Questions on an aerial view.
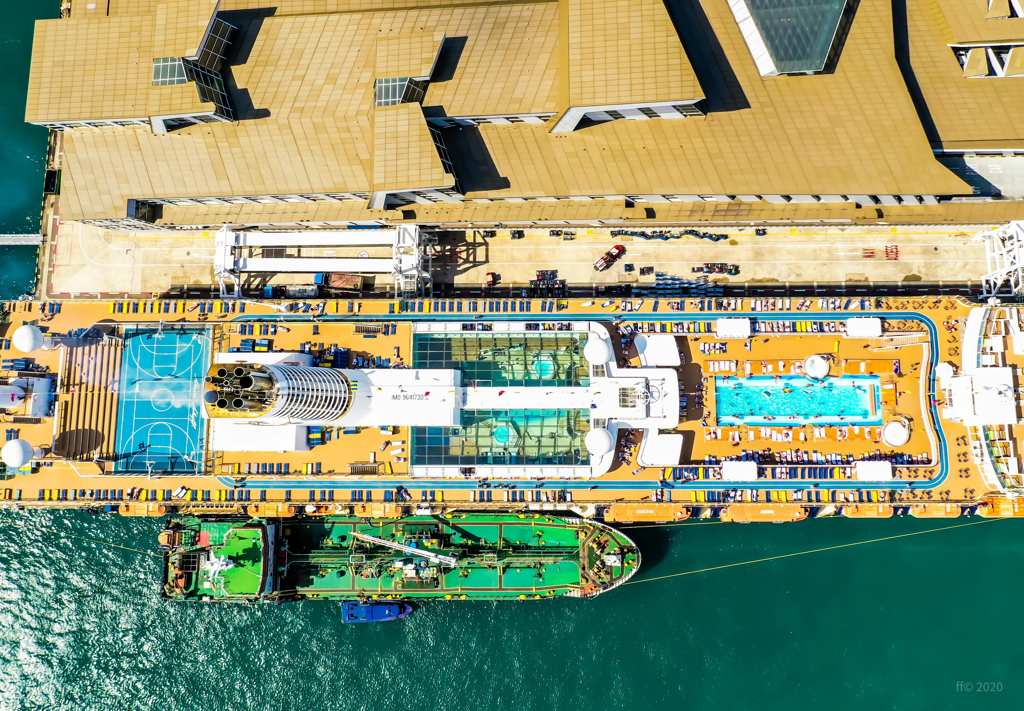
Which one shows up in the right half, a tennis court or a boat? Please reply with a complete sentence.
You can see a boat in the right half.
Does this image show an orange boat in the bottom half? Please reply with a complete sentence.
Yes, an orange boat is visible in the bottom half.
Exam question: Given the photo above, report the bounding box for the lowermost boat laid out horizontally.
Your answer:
[340,600,413,625]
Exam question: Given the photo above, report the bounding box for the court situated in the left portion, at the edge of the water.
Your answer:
[59,316,222,481]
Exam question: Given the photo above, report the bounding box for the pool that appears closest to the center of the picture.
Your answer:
[490,409,560,422]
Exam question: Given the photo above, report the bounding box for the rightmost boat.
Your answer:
[972,496,1024,517]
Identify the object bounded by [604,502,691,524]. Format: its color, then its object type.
orange boat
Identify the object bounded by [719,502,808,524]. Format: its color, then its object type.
orange boat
